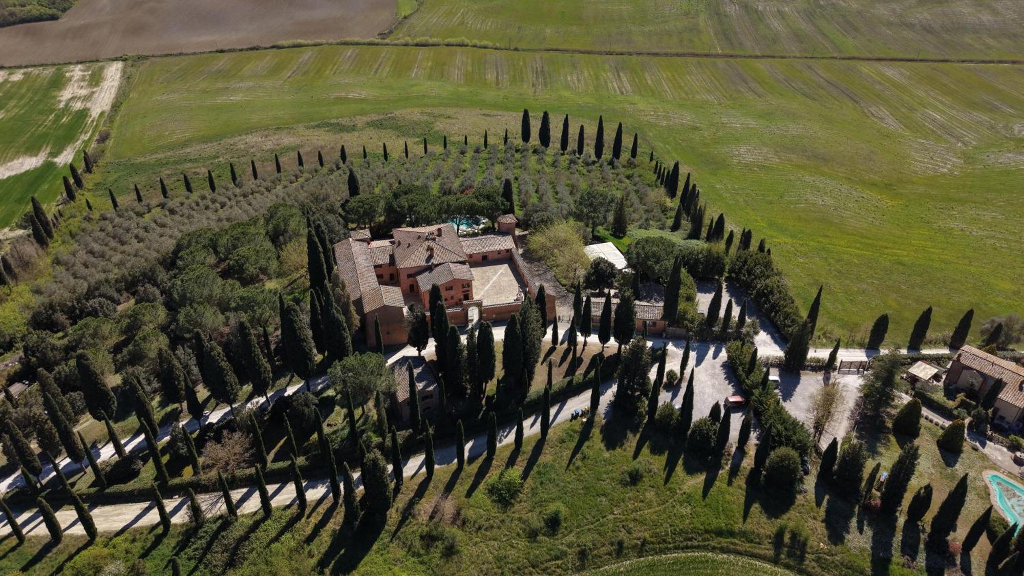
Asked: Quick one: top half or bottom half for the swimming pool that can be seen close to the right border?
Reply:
bottom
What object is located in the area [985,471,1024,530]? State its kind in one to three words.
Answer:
swimming pool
